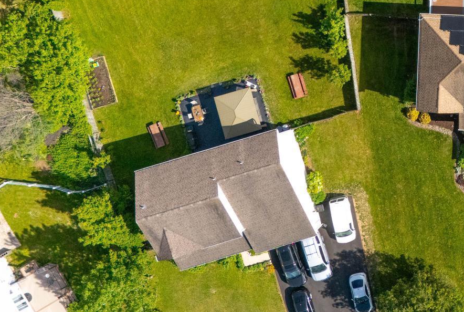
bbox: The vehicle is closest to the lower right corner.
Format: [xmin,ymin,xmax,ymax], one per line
[350,271,374,312]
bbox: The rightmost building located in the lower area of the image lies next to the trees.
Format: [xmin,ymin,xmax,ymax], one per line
[133,128,319,277]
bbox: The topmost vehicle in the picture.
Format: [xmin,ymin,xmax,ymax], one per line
[329,194,357,245]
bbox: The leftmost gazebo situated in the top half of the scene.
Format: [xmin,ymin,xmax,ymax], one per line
[214,88,268,140]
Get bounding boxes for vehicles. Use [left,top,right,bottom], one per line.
[350,271,374,312]
[301,230,333,282]
[292,288,316,312]
[329,194,357,245]
[276,242,307,288]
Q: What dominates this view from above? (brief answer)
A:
grass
